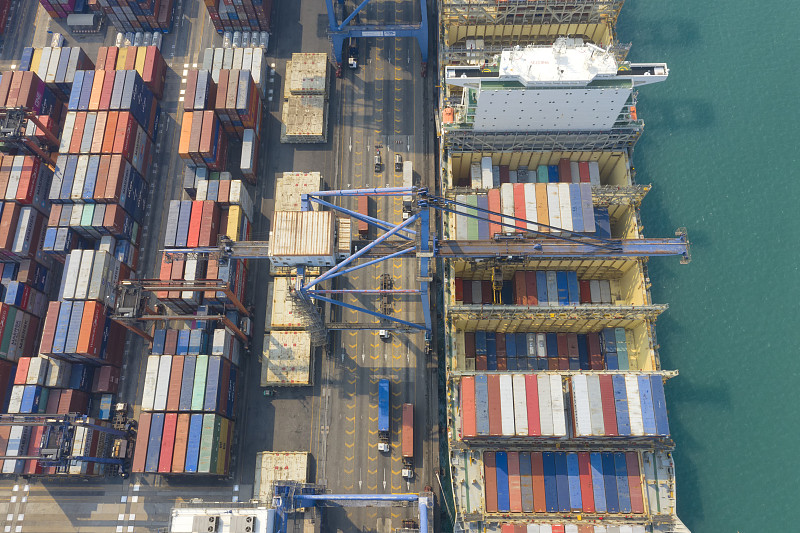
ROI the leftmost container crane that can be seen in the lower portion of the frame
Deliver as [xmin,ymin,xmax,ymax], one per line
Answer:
[0,408,138,473]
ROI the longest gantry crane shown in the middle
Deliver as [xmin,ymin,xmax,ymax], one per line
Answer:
[159,173,703,355]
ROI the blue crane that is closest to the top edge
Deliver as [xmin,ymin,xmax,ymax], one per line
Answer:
[323,0,427,77]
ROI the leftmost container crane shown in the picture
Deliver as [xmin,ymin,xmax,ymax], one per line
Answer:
[0,99,64,163]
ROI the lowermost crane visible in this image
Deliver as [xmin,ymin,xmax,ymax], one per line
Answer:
[166,481,443,533]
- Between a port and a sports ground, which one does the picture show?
port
